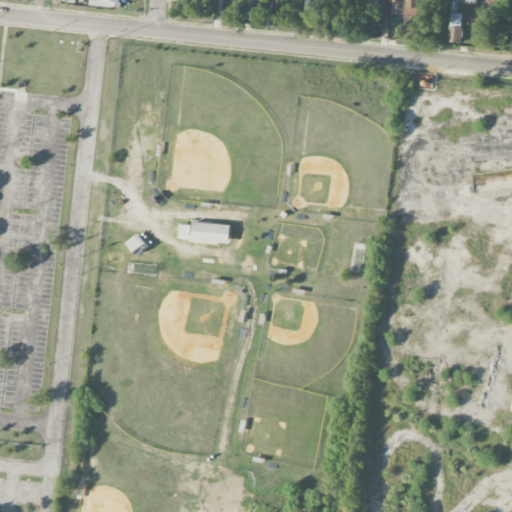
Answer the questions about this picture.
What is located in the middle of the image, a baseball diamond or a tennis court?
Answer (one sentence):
The feature located in the middle of the image is a baseball diamond.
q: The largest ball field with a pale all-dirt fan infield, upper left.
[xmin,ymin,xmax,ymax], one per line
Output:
[158,66,282,207]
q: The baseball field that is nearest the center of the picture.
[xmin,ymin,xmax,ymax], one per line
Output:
[270,224,324,270]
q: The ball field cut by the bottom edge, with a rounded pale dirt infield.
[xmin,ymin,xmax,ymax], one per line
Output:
[80,466,171,512]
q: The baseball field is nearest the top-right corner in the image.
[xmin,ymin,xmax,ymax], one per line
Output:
[289,96,387,219]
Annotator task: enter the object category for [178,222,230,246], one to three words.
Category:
building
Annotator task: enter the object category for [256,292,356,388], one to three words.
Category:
baseball field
